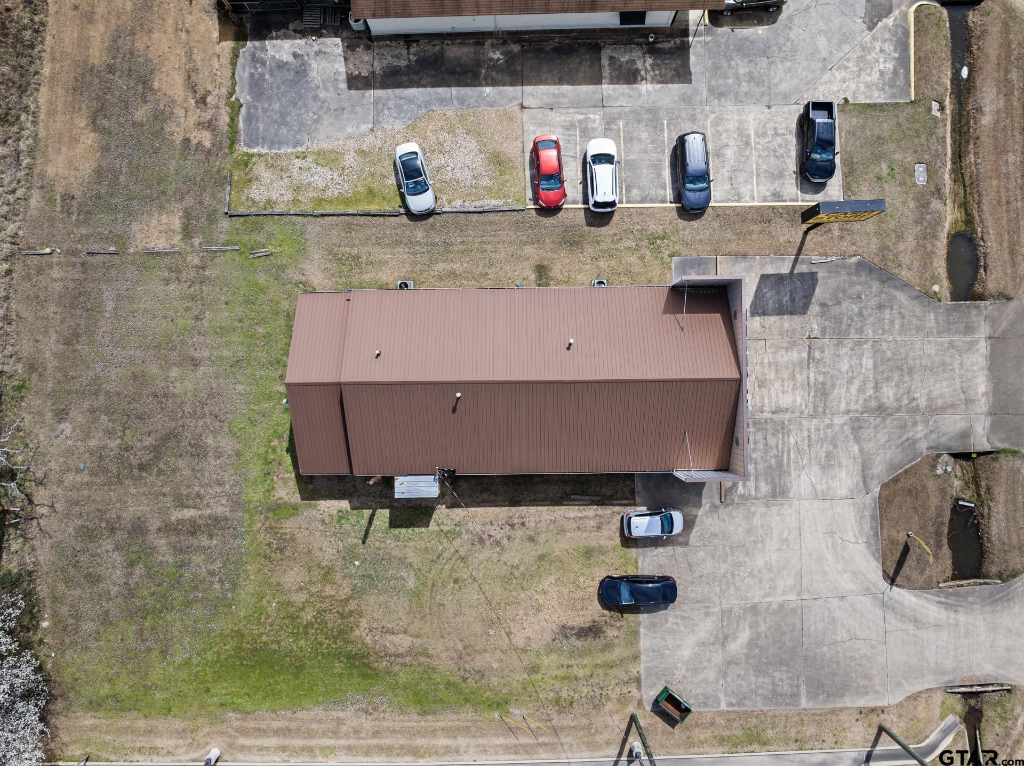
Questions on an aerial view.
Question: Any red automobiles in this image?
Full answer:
Yes, the picture does show a red automobile.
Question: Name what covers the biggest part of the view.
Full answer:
Most of the picture is covered by grass.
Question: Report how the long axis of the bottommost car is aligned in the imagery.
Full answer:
In this picture, the bottommost car lies from side to side.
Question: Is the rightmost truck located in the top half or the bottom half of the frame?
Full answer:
You can find the rightmost truck in the top half.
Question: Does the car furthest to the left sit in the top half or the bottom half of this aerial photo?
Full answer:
It is in the top half that the car furthest to the left appears.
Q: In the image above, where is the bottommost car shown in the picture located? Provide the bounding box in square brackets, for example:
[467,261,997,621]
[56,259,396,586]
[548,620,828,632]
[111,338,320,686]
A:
[597,572,678,610]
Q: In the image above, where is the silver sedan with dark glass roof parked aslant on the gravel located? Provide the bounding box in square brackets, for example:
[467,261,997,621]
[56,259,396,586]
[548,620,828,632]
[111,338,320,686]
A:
[395,141,434,216]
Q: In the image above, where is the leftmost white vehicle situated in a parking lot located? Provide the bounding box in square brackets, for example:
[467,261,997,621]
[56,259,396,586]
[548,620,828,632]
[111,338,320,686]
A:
[586,138,622,214]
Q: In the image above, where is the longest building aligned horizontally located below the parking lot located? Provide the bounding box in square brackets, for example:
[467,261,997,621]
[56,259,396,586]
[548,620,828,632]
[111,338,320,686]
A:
[283,274,753,482]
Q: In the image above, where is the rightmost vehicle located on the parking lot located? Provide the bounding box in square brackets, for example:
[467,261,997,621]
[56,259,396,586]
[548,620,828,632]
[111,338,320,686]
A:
[799,99,842,184]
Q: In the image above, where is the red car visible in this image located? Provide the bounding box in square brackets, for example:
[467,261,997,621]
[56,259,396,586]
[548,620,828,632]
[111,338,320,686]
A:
[532,134,568,209]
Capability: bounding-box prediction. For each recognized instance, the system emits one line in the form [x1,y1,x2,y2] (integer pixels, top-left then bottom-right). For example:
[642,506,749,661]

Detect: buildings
[283,274,753,482]
[349,0,726,41]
